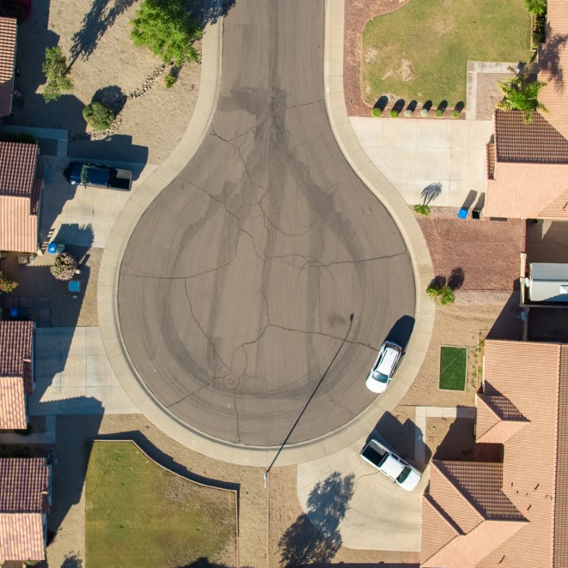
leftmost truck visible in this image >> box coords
[70,163,135,191]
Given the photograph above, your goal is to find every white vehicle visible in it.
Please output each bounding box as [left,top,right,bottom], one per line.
[368,341,404,393]
[361,439,422,492]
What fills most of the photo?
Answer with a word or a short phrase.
paved ground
